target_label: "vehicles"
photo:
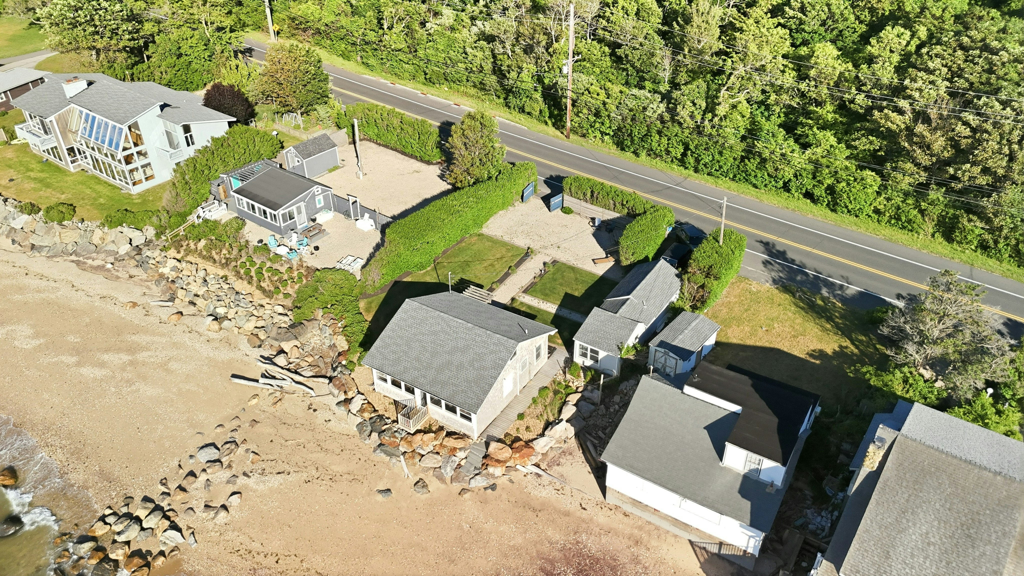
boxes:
[680,224,710,250]
[667,248,698,279]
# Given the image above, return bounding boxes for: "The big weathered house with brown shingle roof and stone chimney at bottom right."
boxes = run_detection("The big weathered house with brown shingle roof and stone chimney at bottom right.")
[807,400,1024,576]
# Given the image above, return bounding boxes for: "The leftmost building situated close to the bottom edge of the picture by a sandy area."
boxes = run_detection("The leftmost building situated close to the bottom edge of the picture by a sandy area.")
[599,356,823,572]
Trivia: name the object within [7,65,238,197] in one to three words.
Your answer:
house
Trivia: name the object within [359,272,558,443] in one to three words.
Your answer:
house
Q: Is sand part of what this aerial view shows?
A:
Yes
